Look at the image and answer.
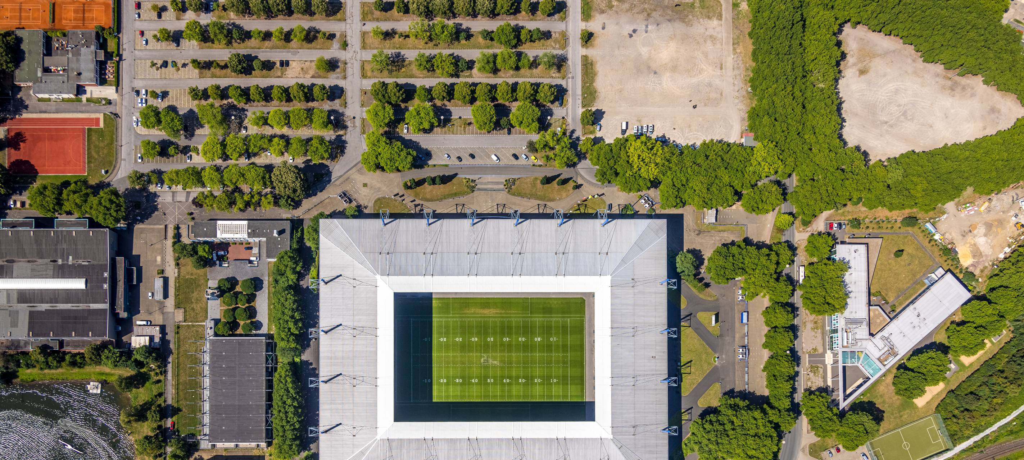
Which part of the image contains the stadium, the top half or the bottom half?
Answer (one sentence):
The stadium sits in the bottom half of the picture.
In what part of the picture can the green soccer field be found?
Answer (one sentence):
The green soccer field appears toward the bottom of the photo.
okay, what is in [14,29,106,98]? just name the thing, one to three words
building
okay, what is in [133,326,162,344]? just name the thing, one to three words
building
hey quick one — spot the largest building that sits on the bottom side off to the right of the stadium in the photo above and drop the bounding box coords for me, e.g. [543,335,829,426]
[824,238,972,408]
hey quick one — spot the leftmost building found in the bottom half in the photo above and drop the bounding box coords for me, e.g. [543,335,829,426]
[0,219,118,356]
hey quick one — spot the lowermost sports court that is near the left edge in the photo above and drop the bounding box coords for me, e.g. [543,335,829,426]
[7,127,87,175]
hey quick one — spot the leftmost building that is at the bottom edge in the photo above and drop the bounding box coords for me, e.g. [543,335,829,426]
[187,321,274,449]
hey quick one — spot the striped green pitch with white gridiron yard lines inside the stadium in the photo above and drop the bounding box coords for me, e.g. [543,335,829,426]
[396,298,585,422]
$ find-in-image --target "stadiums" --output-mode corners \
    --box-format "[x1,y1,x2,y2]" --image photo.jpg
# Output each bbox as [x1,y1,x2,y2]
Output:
[309,208,678,460]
